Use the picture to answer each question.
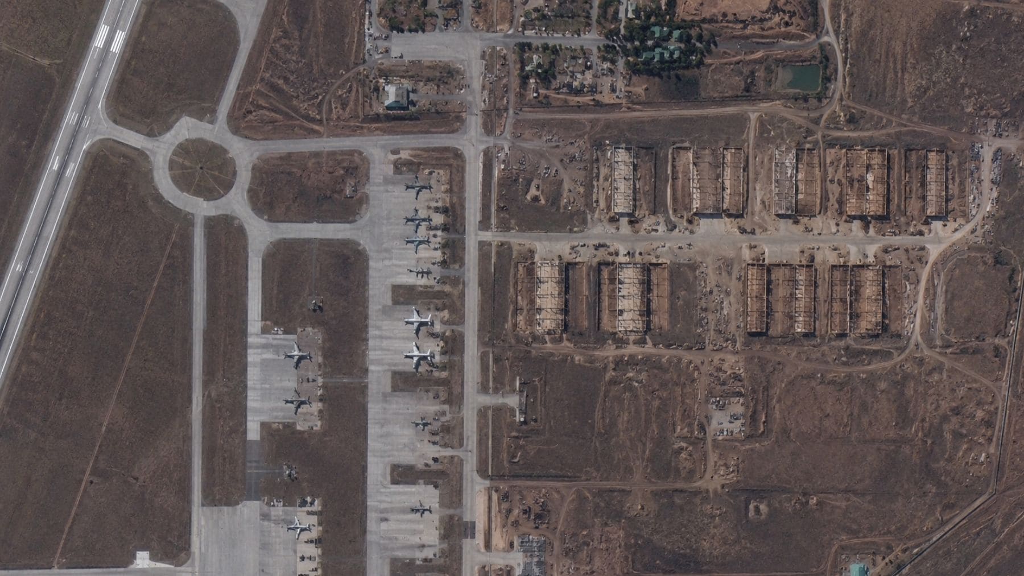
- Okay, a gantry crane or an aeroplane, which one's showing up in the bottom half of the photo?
aeroplane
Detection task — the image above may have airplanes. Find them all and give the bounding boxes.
[412,416,430,431]
[287,516,312,539]
[408,266,432,278]
[404,207,432,230]
[404,307,430,334]
[404,229,431,253]
[410,501,432,518]
[283,387,312,414]
[405,174,433,199]
[284,341,310,368]
[404,342,430,369]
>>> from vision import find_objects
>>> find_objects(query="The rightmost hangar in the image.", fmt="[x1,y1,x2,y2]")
[925,149,946,216]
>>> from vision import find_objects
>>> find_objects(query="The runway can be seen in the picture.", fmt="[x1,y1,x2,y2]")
[0,0,141,386]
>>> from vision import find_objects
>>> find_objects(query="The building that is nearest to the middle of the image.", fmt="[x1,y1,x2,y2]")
[536,262,565,335]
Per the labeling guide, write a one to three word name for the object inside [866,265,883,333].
hangar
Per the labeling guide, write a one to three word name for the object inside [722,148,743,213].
hangar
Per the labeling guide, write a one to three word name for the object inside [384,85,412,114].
building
